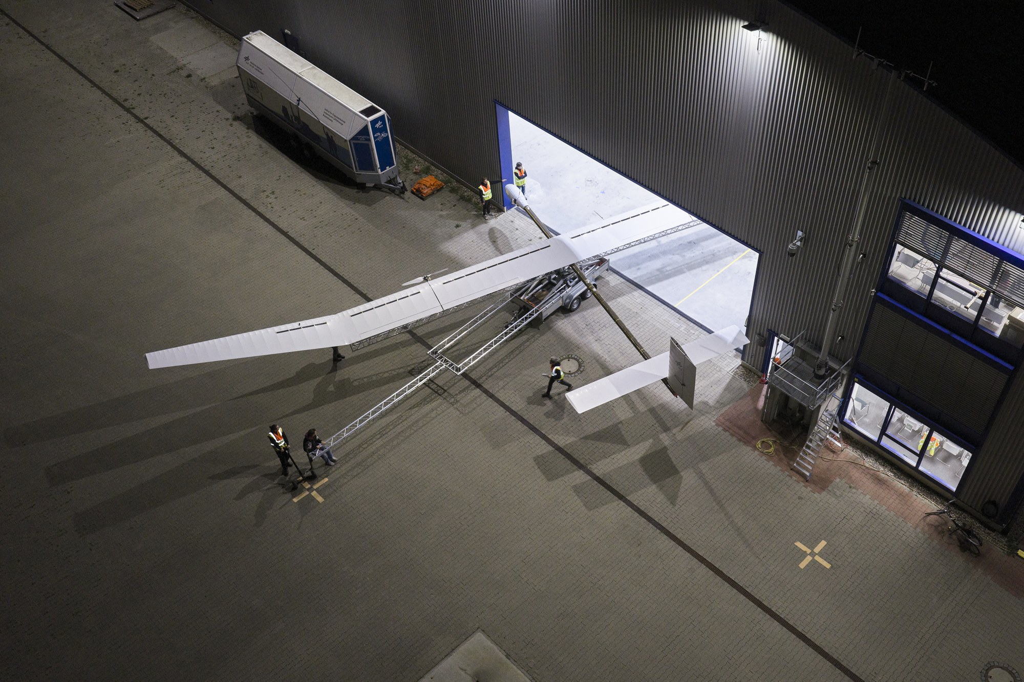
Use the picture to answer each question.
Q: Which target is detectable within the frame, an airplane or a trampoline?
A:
airplane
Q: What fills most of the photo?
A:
paved ground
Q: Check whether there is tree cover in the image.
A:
No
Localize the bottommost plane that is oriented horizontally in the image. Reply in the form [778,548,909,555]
[145,183,748,413]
